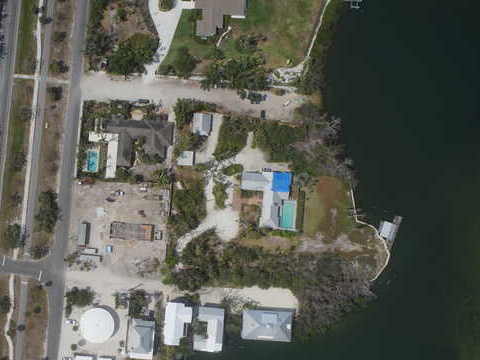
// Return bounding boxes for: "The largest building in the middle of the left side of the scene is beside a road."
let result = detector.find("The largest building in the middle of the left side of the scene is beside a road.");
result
[88,118,174,178]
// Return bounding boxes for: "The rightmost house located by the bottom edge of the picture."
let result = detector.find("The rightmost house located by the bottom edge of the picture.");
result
[240,309,292,343]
